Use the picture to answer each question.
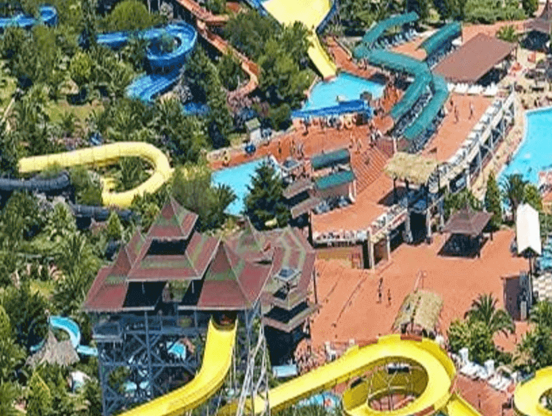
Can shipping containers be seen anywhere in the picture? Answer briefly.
No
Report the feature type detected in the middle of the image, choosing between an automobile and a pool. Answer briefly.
pool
